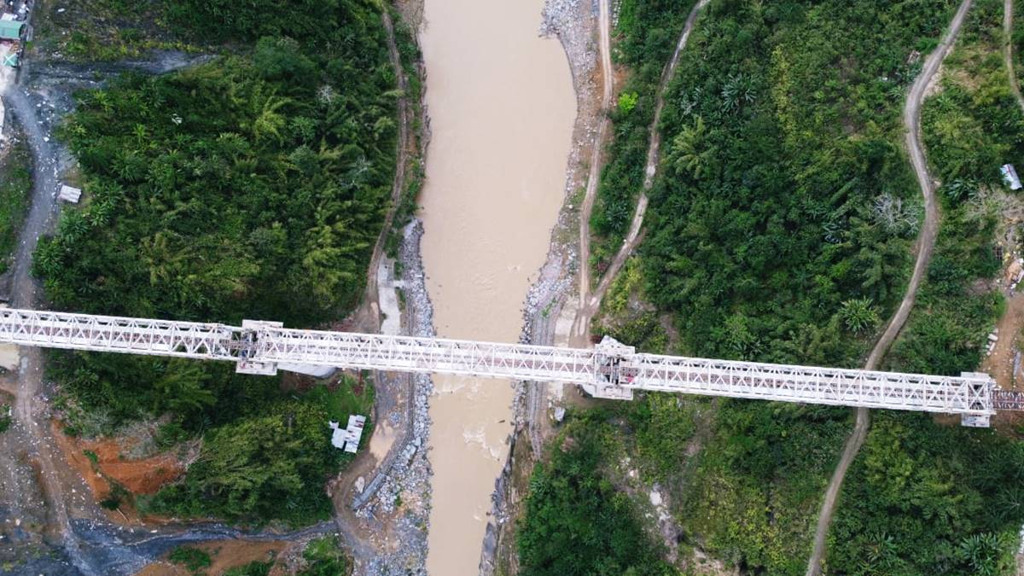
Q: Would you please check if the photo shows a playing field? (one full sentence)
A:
No, no playing field is visible in the view.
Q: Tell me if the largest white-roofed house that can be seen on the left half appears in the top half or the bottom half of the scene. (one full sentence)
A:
The bottom half of the photo is where the largest white-roofed house that can be seen on the left half is.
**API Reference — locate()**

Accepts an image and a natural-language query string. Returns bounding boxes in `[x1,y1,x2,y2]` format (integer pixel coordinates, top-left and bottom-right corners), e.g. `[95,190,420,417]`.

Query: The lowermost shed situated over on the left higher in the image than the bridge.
[59,185,85,204]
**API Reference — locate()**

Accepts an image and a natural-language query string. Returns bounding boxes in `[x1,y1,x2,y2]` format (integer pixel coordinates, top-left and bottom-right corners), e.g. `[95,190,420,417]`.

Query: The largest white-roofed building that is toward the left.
[330,415,368,453]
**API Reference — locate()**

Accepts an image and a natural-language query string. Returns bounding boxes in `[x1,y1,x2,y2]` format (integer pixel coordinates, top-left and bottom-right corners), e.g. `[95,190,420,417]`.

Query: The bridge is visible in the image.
[0,308,1024,429]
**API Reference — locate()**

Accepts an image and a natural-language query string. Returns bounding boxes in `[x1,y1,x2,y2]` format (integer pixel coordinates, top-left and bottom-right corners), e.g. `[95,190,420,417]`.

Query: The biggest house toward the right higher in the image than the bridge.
[995,164,1021,192]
